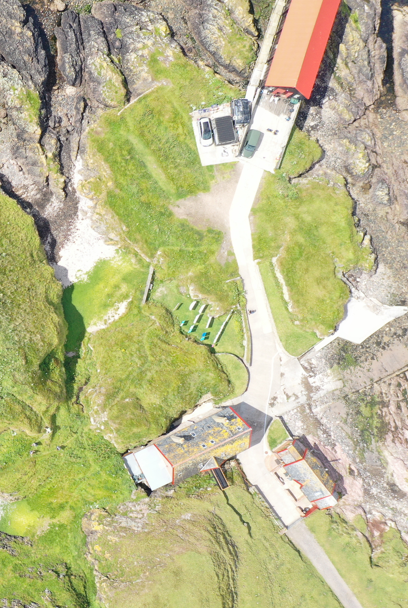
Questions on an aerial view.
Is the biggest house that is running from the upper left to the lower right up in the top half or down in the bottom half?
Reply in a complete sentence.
You can find the biggest house that is running from the upper left to the lower right in the bottom half.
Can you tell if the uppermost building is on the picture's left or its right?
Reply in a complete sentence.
You can find the uppermost building on the right side of the picture.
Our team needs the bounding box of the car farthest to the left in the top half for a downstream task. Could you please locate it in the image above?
[195,116,211,147]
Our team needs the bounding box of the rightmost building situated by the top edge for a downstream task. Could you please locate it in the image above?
[250,0,341,102]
